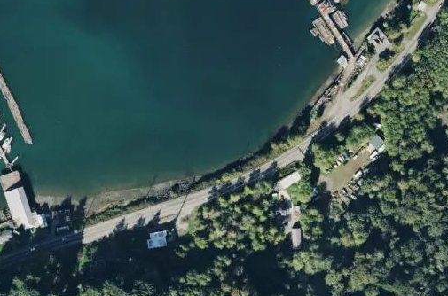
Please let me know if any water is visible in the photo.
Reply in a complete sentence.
Yes, water can be seen from above here.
